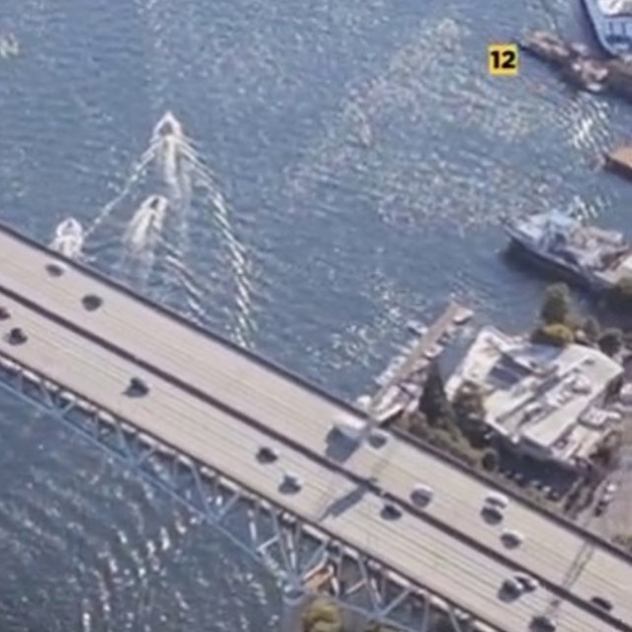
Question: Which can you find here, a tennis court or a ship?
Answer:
ship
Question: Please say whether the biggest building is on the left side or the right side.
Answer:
right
